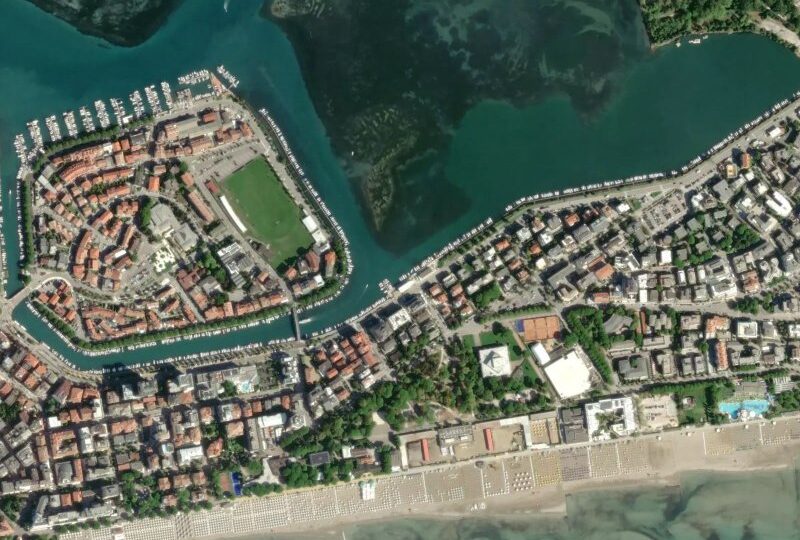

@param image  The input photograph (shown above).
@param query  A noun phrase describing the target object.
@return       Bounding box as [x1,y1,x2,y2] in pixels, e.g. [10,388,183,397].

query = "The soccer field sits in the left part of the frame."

[220,156,313,266]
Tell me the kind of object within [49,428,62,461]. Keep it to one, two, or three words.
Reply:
house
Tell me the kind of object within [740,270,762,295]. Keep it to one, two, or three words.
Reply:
house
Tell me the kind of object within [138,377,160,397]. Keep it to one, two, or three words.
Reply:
building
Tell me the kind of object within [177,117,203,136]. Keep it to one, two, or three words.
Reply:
building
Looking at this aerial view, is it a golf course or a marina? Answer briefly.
marina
